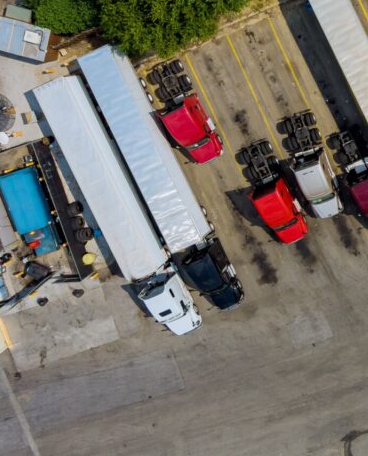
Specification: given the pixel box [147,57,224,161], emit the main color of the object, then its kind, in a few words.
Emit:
red truck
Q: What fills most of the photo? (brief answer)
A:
paved ground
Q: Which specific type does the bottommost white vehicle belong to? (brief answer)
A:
truck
